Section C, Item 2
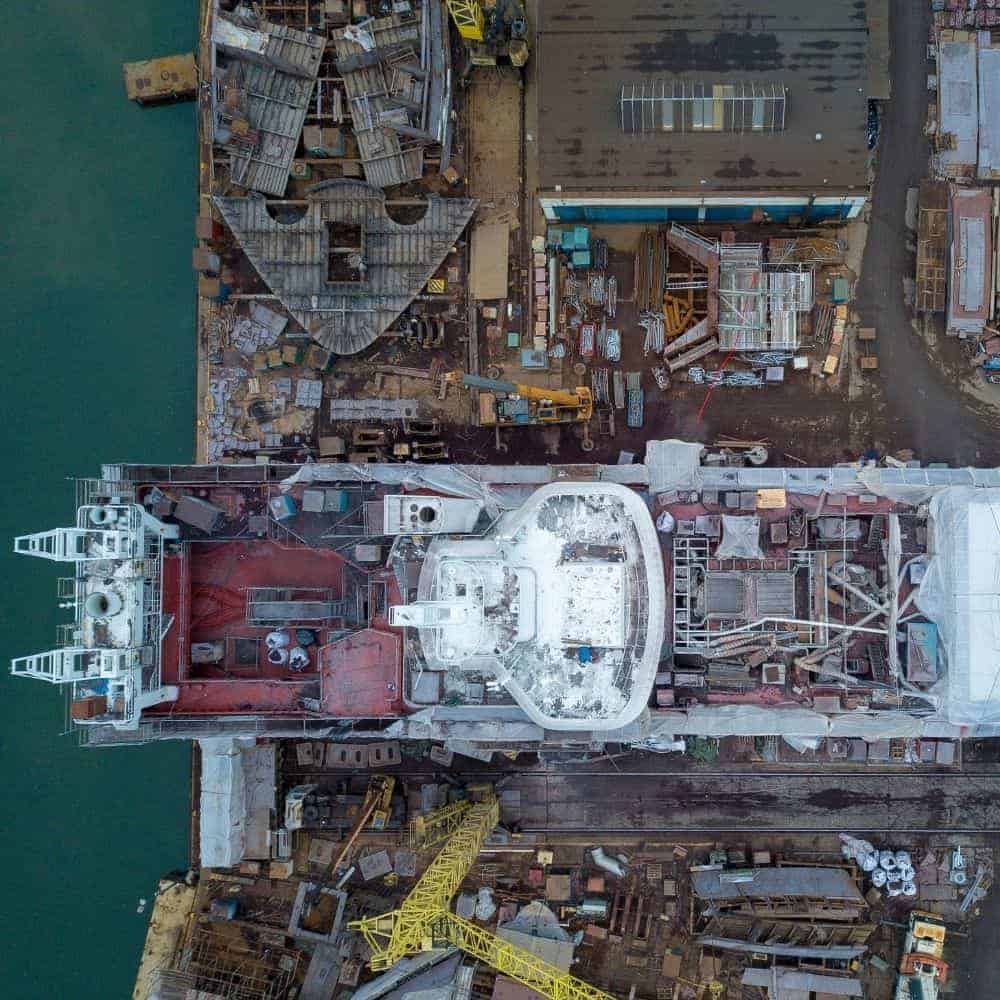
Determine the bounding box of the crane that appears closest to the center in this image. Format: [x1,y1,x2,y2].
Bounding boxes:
[440,361,594,453]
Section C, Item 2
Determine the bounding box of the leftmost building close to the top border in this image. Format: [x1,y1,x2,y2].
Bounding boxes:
[538,0,868,227]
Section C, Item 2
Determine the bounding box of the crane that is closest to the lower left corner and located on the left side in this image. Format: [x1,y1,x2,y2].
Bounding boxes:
[331,771,399,875]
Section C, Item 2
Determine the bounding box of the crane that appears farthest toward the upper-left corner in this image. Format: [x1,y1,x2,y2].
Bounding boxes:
[443,0,529,74]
